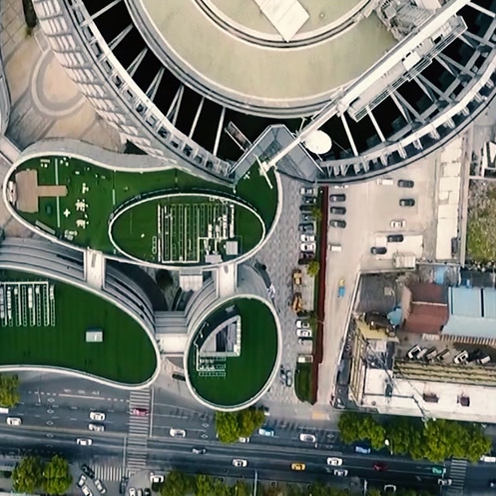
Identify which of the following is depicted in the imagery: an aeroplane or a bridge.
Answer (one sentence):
This aerial view contains a bridge.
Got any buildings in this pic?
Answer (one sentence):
Yes, the photo shows a building.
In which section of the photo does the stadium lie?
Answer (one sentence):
The stadium is located in the top region of the scene.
